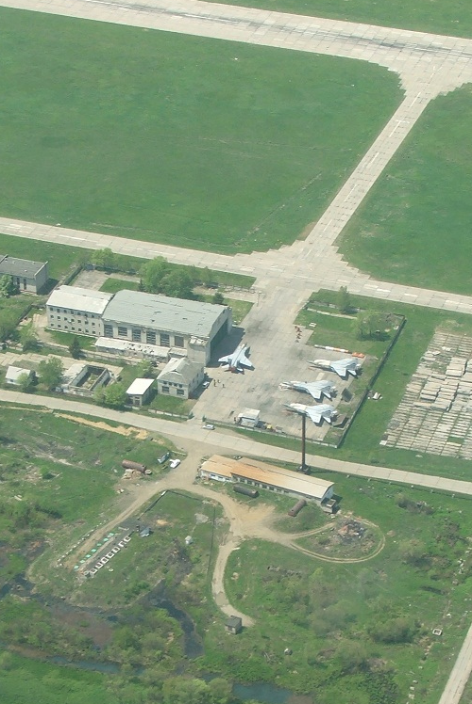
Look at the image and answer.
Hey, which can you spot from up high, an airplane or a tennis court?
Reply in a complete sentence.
Of the two, only an airplane appears.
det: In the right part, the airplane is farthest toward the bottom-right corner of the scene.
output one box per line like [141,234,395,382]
[295,399,340,421]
